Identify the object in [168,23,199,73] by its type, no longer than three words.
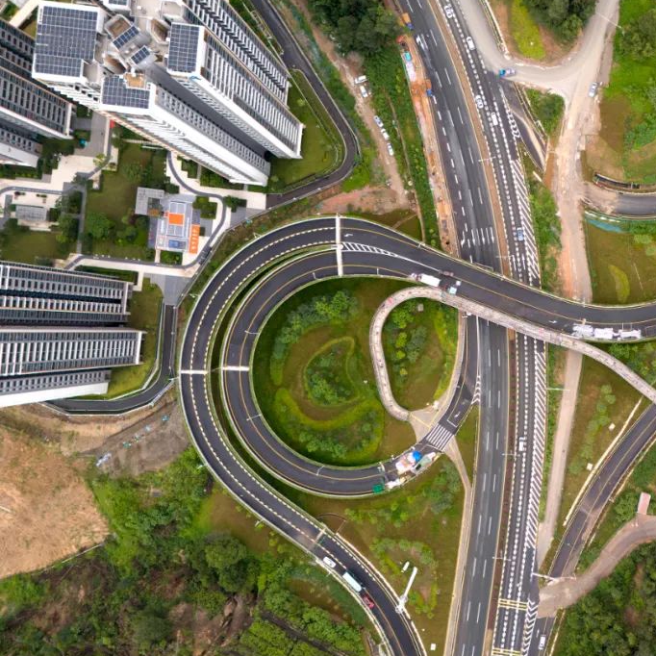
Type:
solar panel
